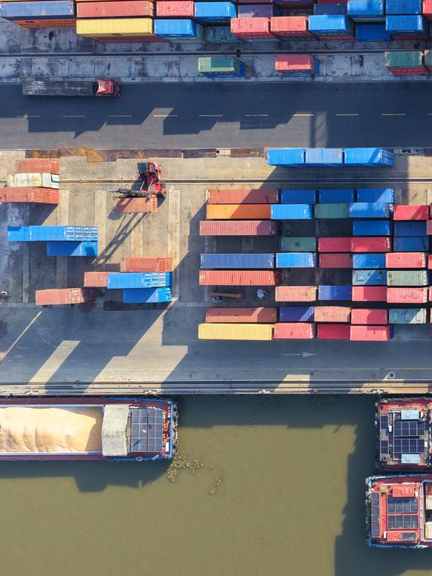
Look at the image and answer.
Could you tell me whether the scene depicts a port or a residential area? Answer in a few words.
port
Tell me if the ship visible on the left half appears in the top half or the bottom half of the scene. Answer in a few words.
bottom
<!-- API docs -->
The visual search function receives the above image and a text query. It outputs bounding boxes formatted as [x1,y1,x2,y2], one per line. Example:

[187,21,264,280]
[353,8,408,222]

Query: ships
[365,474,432,548]
[0,399,181,461]
[374,397,432,471]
